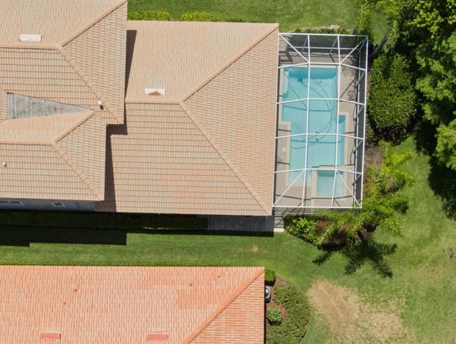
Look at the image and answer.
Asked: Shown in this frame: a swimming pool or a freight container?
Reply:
swimming pool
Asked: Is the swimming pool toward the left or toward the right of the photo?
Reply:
right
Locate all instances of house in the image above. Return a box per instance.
[0,0,281,219]
[0,264,266,344]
